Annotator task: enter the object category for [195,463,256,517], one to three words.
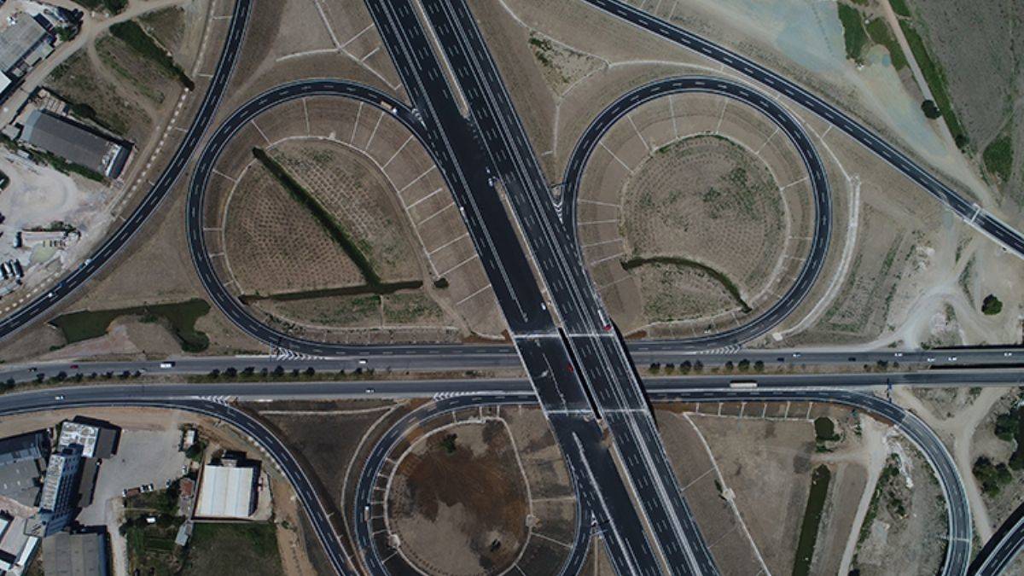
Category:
building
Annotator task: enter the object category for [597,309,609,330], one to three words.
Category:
vehicle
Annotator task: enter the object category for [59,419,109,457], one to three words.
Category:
house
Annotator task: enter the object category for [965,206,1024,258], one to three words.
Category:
bridge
